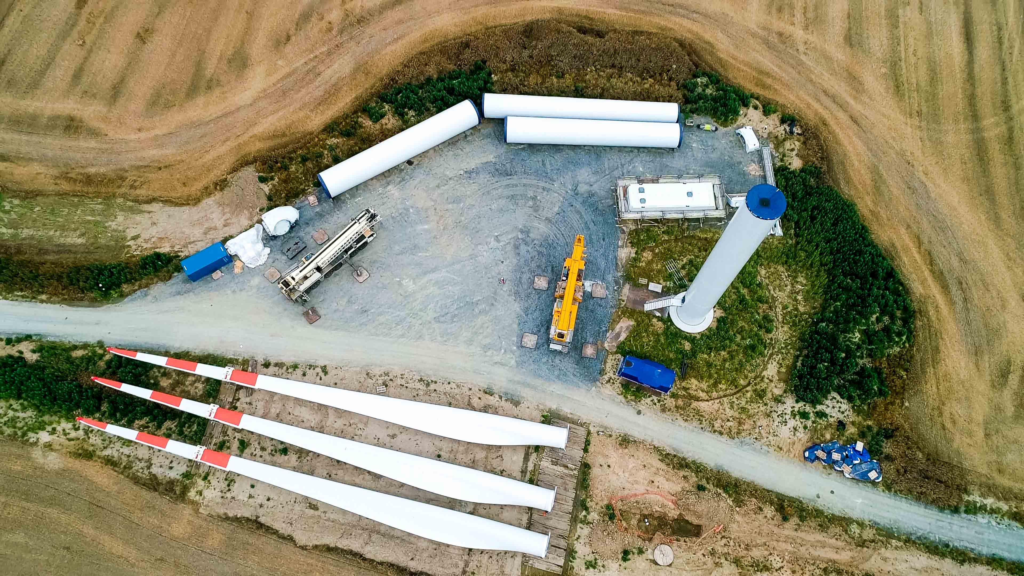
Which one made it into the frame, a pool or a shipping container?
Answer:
shipping container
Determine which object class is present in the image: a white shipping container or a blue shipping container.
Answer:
blue shipping container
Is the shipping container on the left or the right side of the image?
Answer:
left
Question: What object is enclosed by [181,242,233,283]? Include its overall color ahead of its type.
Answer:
blue shipping container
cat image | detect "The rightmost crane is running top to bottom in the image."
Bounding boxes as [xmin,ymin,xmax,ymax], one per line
[549,233,587,355]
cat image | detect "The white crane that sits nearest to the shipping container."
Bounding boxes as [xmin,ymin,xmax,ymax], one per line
[275,210,383,317]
